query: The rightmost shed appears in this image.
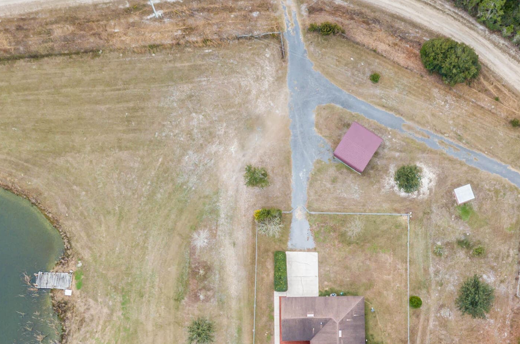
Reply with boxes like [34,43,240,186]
[453,184,475,206]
